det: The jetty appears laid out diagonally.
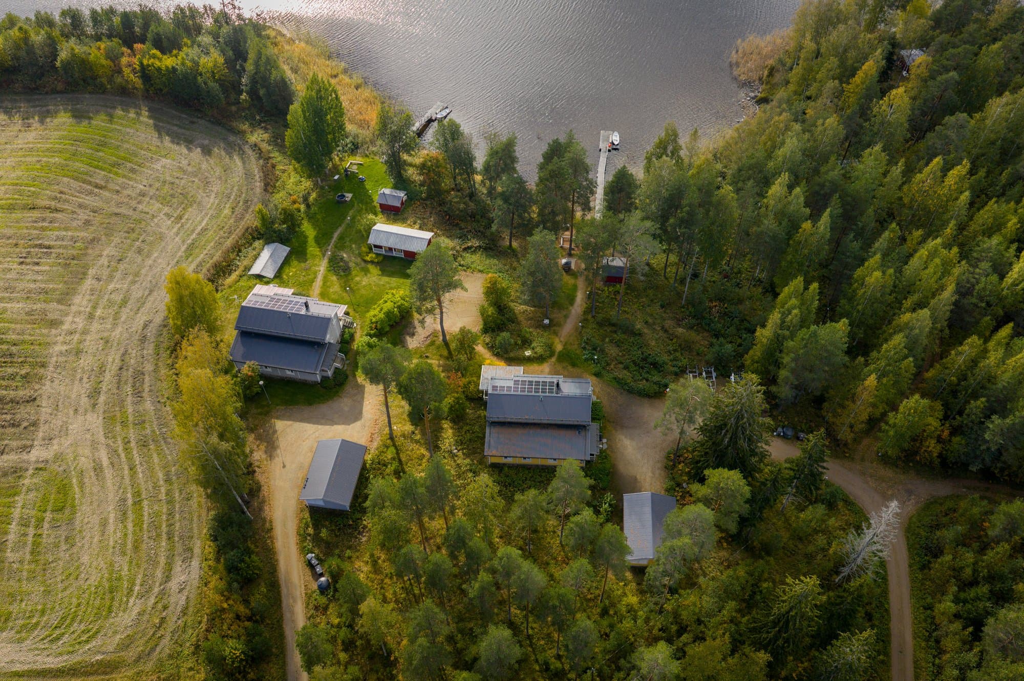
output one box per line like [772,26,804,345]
[411,103,447,136]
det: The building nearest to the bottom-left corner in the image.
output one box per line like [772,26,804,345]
[297,439,366,515]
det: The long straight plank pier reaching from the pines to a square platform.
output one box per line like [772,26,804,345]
[595,131,613,216]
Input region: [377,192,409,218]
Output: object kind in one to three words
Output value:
shed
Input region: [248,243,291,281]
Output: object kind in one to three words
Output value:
shed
